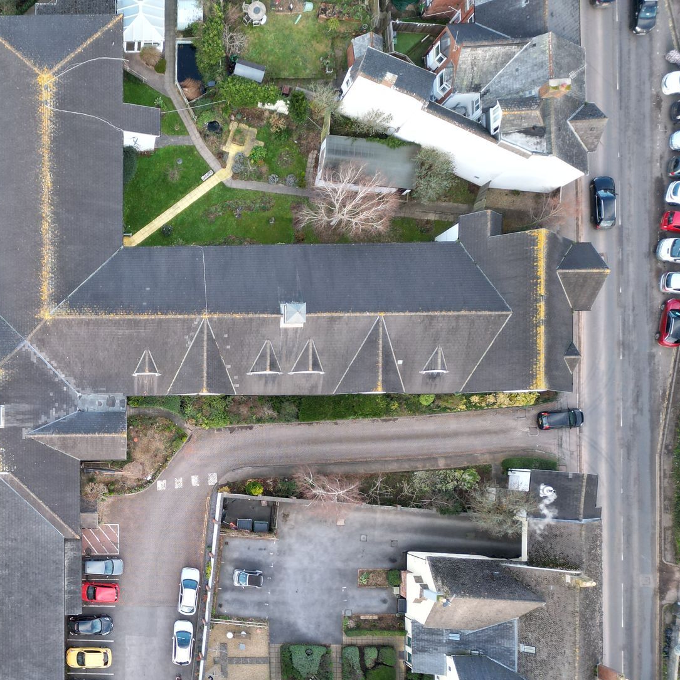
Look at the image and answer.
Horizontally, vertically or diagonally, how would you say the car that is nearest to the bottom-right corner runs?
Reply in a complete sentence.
I'd say the car that is nearest to the bottom-right corner is aligned horizontally in the picture.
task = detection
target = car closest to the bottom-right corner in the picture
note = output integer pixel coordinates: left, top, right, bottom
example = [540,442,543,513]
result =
[535,407,581,429]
